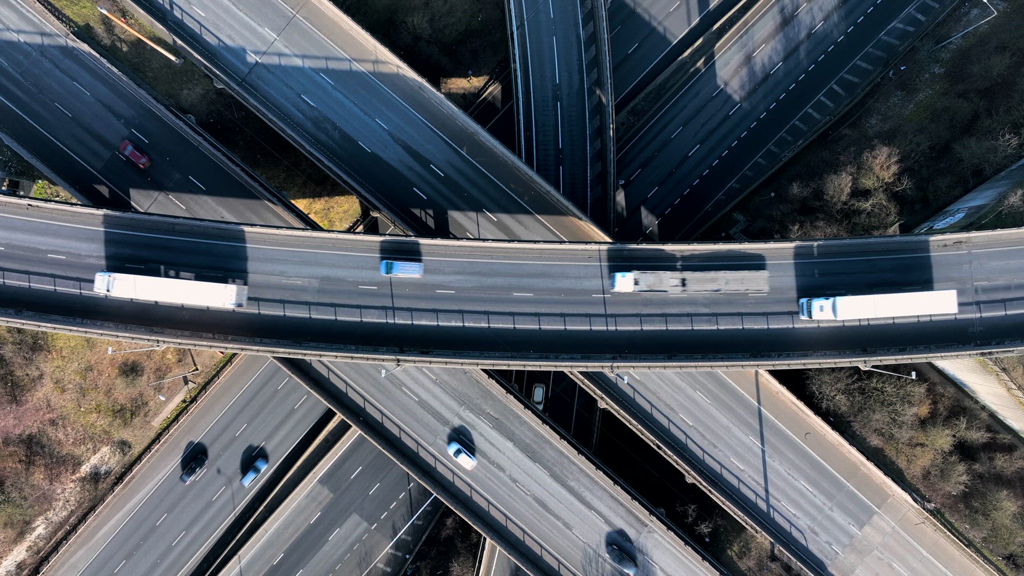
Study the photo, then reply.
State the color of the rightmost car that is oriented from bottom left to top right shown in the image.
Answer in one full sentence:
In this view, the rightmost car that is oriented from bottom left to top right is blue.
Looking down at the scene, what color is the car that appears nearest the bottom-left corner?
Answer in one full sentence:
The car that appears nearest the bottom-left corner looks black in the image.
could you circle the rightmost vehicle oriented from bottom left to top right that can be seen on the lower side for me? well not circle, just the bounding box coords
[239,457,268,487]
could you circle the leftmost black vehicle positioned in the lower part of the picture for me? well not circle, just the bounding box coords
[178,455,208,485]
